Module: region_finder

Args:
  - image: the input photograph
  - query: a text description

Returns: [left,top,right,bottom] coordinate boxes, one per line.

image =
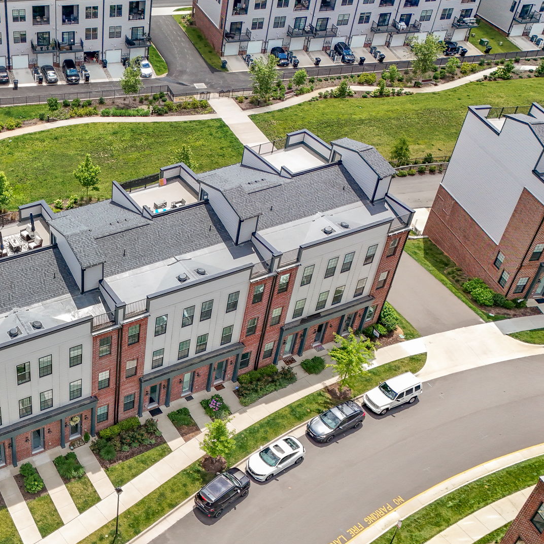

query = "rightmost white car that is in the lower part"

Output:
[366,371,429,416]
